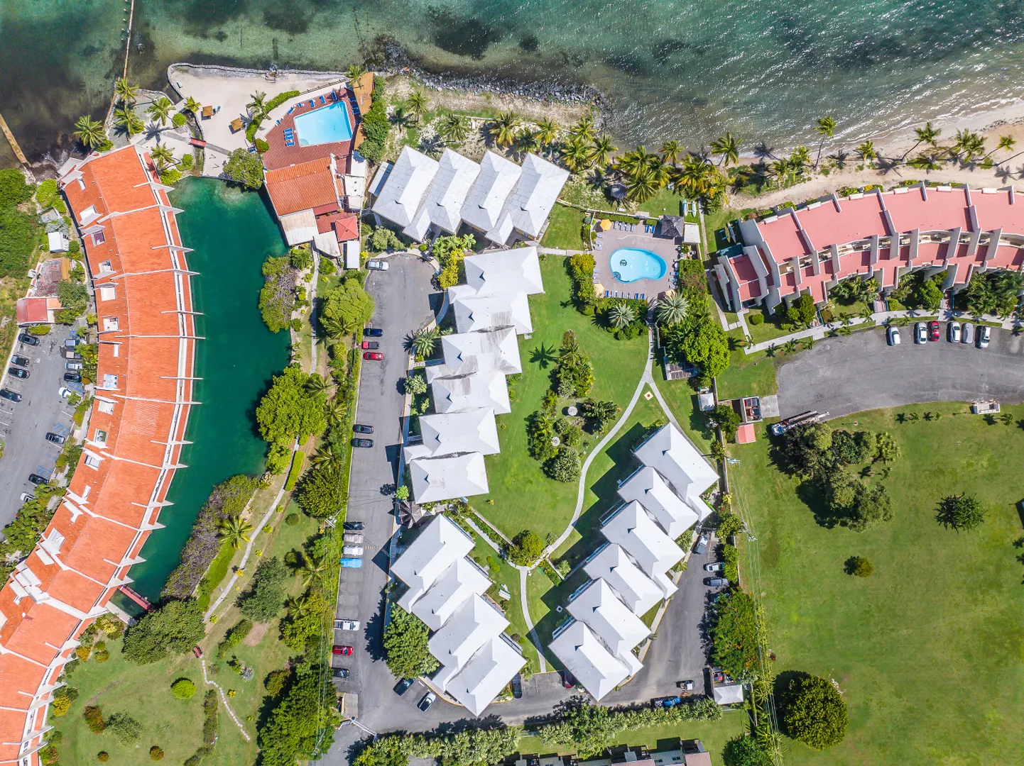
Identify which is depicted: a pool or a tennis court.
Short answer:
pool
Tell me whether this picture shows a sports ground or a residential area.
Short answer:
residential area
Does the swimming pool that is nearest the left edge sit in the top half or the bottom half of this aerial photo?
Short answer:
top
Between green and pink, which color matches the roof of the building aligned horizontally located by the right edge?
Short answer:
pink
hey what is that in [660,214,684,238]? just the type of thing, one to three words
gazebo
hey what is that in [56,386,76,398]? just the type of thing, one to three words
vehicle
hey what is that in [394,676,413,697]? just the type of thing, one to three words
car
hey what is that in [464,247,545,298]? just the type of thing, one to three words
house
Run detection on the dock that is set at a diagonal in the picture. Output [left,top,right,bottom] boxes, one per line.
[0,115,33,165]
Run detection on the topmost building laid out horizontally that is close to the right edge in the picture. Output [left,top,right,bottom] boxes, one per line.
[714,180,1024,320]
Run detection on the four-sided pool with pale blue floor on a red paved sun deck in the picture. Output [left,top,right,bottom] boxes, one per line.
[252,76,360,177]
